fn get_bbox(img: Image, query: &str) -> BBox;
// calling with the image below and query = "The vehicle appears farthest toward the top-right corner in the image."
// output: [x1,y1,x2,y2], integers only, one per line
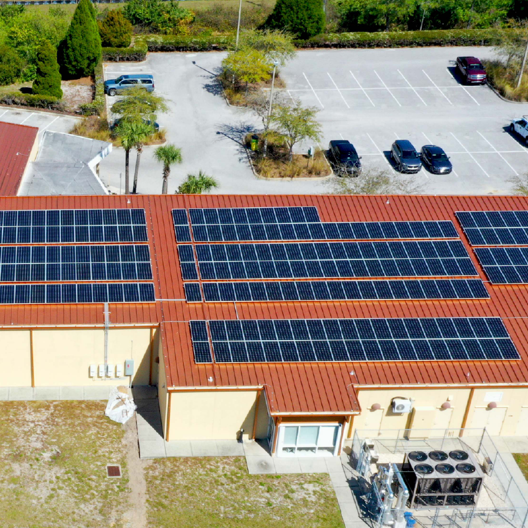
[450,54,486,82]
